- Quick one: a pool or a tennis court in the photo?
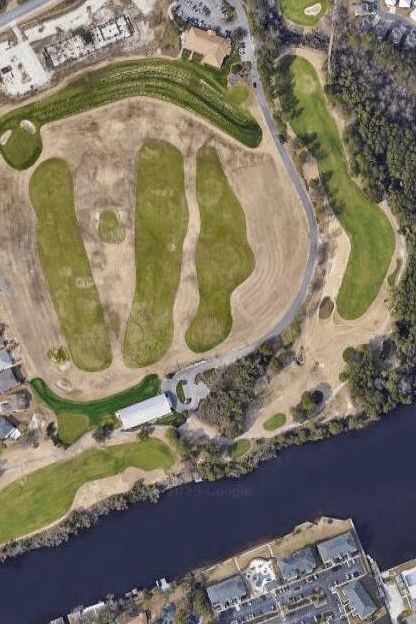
pool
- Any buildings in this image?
Yes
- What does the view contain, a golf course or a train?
golf course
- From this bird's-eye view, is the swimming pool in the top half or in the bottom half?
bottom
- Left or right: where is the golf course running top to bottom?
right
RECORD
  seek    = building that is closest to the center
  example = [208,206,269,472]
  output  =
[115,393,171,430]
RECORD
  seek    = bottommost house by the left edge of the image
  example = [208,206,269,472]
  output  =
[0,413,20,444]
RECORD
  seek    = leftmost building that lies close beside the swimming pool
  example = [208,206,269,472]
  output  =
[205,574,250,607]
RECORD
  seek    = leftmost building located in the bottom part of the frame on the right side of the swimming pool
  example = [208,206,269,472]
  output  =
[275,548,317,581]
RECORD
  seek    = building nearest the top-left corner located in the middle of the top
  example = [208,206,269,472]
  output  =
[180,28,229,72]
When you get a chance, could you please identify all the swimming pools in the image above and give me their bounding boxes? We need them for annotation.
[245,559,276,597]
